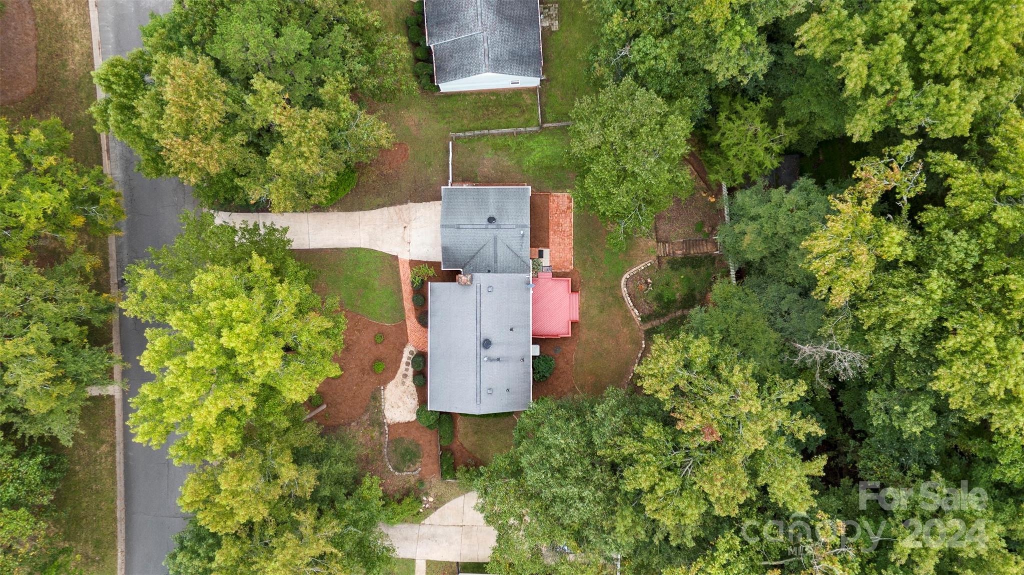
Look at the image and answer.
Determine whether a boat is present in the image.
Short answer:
No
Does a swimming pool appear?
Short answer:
No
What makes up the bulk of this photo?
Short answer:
trees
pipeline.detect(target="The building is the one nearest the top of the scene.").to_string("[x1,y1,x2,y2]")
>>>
[419,0,546,92]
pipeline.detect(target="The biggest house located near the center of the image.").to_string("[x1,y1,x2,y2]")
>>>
[427,185,536,415]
